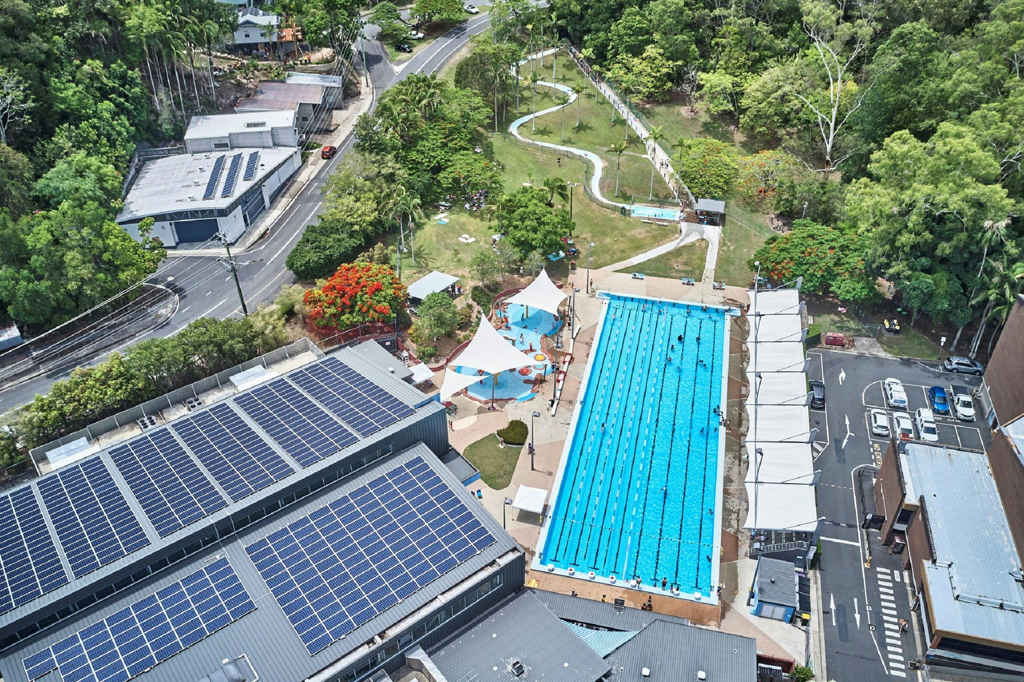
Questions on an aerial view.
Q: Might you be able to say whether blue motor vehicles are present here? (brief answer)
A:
Yes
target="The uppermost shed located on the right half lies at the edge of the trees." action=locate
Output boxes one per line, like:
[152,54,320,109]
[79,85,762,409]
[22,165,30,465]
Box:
[695,198,726,226]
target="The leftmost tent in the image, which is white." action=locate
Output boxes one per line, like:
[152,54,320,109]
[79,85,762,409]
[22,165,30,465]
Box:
[407,362,439,390]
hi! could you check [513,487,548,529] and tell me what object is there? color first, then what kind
white tent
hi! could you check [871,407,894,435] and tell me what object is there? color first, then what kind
white car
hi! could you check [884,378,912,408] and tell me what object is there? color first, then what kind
white vehicle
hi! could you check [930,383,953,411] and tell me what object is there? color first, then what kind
blue car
